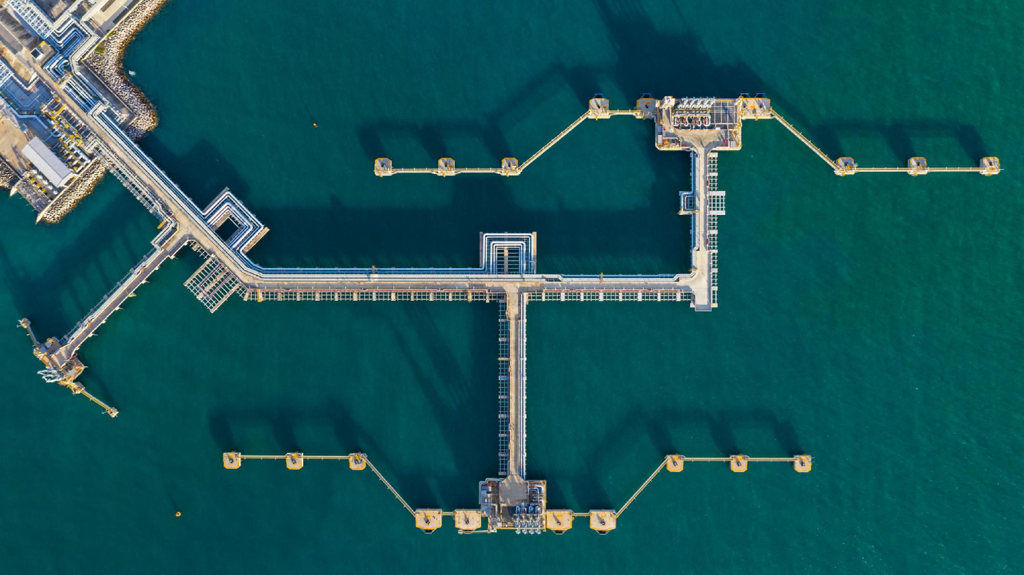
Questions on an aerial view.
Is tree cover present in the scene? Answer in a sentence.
No, the picture contains no tree cover.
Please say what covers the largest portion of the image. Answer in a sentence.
The largest share of the image is taken up by water.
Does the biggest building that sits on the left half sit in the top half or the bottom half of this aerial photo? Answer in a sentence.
The biggest building that sits on the left half is in the top half of the image.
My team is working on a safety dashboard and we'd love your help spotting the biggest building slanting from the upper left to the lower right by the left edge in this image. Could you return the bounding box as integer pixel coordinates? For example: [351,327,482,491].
[22,137,77,188]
